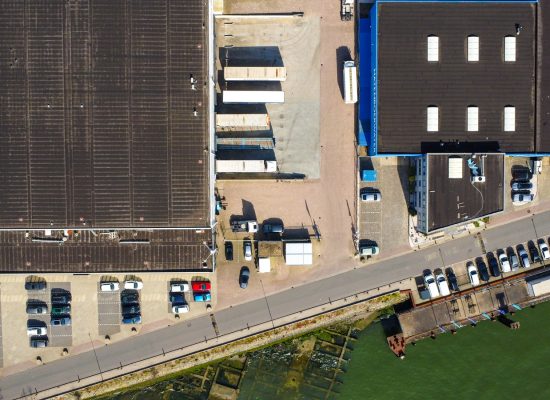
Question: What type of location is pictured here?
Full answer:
The picture captures an industrial area.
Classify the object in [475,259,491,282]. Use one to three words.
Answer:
car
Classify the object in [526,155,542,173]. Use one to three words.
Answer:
vehicle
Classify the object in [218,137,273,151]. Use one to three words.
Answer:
vehicle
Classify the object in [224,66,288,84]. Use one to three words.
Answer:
trailer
